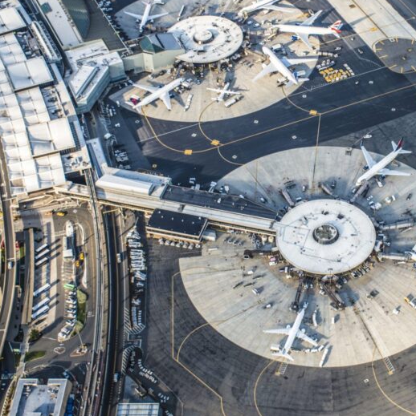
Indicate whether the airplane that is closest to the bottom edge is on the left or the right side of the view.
right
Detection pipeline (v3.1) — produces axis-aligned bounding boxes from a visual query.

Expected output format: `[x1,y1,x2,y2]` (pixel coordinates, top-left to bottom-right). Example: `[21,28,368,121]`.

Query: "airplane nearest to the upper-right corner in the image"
[274,11,341,51]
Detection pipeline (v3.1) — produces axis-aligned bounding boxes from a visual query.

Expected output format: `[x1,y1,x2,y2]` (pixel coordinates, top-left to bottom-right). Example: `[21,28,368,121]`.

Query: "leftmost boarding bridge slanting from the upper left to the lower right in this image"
[278,185,298,209]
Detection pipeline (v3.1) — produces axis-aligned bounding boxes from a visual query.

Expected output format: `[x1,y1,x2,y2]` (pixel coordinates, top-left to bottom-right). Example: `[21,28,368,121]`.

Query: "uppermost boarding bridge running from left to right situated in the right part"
[243,26,274,38]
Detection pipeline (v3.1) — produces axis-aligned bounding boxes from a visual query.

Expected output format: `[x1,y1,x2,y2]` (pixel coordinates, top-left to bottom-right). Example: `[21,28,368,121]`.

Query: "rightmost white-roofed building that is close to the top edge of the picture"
[169,17,245,69]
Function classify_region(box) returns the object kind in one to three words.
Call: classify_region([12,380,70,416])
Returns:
building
